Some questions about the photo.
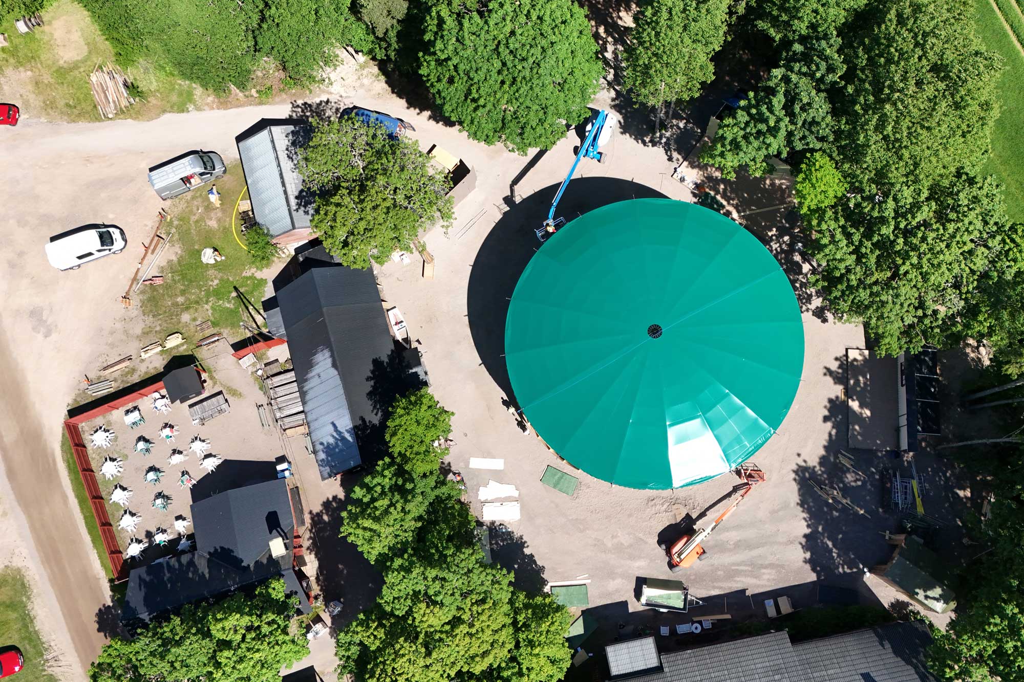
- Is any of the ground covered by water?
No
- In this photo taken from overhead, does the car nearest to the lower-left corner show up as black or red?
red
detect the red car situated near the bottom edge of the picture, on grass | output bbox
[0,651,22,679]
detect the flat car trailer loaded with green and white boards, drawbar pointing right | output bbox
[640,578,711,613]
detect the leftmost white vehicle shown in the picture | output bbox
[43,227,122,270]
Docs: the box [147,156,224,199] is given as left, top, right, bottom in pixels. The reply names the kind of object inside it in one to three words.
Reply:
van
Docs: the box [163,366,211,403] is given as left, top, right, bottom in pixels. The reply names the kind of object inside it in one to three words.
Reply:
shed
